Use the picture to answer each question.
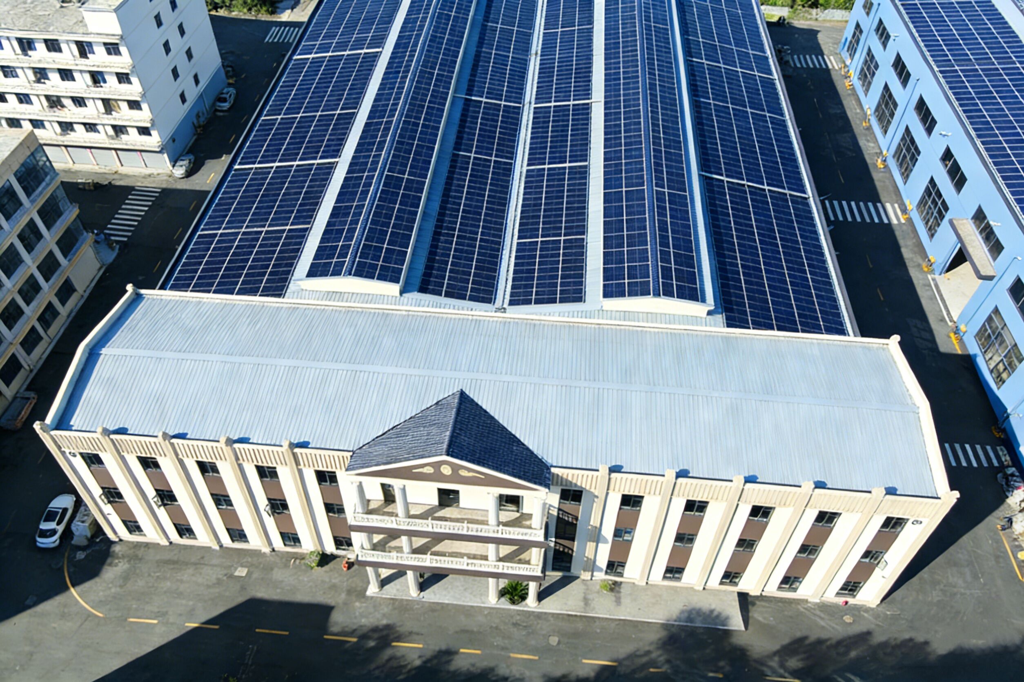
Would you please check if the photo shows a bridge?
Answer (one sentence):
No, no bridge is visible in the view.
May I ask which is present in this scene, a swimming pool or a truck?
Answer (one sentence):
Looking from above, you can make out a truck.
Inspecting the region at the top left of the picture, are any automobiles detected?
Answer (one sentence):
Yes, looking at the top left of the picture, one can make out an automobile.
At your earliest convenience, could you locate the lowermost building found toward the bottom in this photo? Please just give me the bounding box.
[38,280,957,607]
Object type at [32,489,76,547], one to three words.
car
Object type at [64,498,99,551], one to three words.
truck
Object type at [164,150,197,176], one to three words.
car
